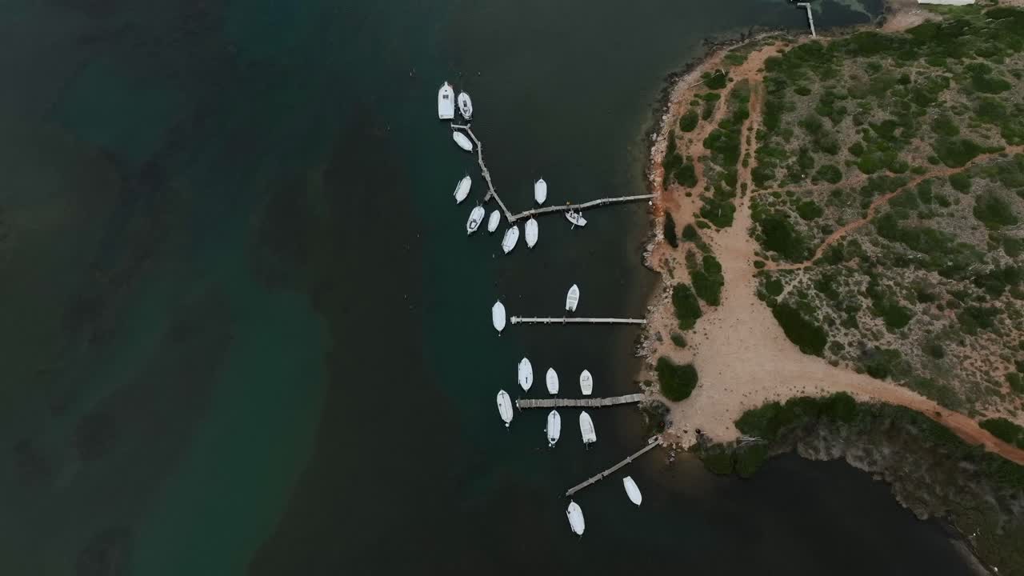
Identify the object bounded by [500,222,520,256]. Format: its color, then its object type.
white boat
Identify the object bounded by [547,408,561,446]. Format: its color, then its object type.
white boat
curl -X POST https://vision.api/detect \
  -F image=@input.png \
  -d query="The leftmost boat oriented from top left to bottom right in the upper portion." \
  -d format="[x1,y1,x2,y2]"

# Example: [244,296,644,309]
[451,129,473,155]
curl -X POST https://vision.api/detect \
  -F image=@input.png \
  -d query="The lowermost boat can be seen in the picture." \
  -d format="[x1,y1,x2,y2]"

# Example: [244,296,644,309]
[566,495,585,536]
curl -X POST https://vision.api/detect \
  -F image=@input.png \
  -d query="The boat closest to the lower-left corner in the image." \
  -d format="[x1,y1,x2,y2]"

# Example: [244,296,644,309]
[497,389,513,424]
